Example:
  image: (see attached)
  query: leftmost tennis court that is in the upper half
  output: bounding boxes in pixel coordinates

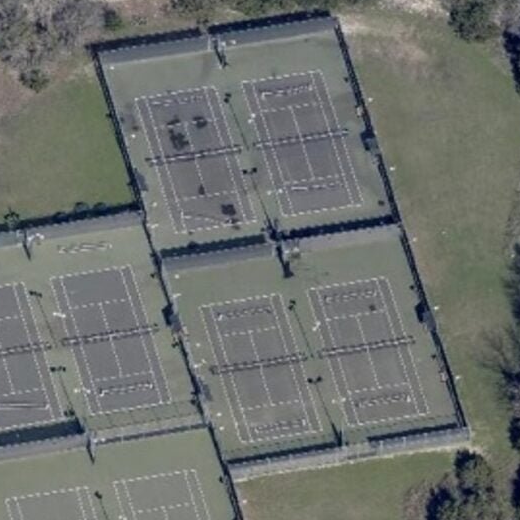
[136,86,255,232]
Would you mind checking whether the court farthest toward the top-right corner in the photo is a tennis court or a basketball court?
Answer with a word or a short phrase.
tennis court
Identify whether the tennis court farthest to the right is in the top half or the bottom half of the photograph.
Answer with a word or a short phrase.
bottom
